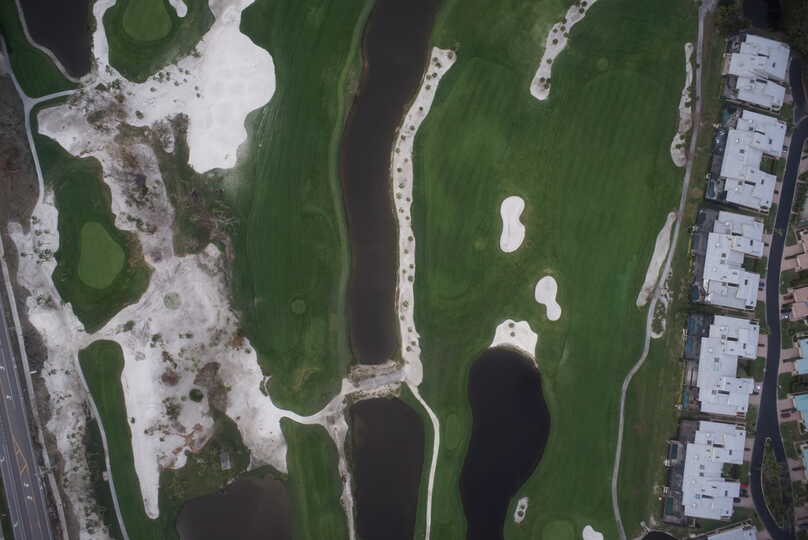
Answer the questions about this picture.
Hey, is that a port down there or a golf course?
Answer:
golf course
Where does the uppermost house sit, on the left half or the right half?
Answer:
right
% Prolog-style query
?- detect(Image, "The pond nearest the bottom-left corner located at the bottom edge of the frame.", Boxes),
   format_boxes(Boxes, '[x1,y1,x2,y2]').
[176,472,291,540]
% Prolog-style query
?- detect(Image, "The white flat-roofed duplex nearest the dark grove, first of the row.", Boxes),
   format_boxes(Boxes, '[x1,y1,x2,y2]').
[727,34,790,108]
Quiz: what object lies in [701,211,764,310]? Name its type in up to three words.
house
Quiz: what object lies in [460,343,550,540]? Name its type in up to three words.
pond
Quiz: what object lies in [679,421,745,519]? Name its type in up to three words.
house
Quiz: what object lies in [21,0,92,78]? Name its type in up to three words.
pond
